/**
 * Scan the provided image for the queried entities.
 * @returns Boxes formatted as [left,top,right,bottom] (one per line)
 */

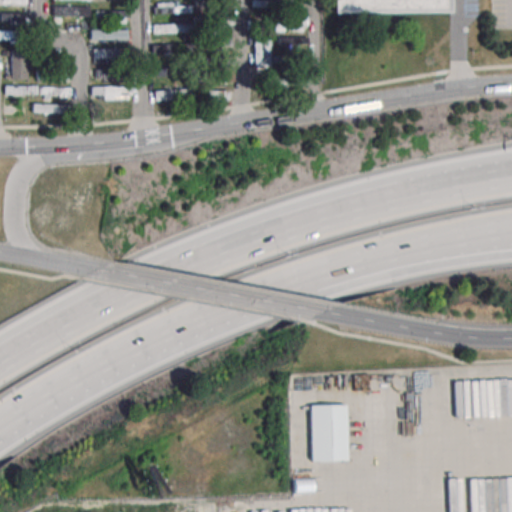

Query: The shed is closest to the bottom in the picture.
[294,478,317,493]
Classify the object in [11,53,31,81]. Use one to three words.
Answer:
house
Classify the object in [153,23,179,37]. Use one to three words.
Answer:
house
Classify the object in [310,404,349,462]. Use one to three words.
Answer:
building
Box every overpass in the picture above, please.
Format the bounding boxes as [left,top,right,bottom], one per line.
[80,256,336,324]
